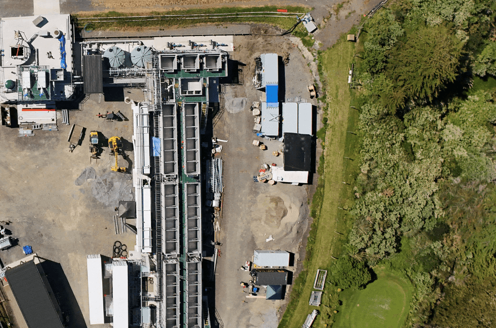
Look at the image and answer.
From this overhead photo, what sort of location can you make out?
industrial area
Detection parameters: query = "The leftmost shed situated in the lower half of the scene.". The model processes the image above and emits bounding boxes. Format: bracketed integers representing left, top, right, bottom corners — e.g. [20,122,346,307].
[5,255,64,328]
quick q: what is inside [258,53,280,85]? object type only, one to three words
building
